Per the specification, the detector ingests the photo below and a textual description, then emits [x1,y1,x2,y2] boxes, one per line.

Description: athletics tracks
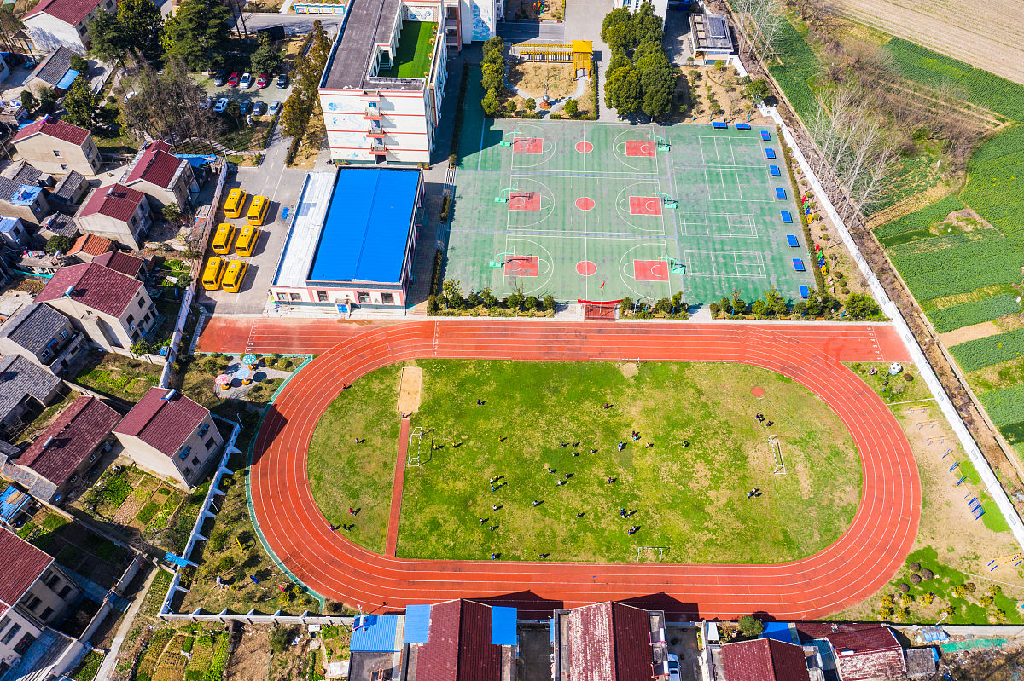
[196,317,924,624]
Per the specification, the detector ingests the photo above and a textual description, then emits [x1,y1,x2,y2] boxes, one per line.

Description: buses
[246,194,271,229]
[223,187,248,221]
[201,255,227,294]
[221,258,247,297]
[234,223,259,260]
[212,222,236,258]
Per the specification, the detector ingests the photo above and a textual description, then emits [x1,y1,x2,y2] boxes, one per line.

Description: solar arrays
[703,14,725,35]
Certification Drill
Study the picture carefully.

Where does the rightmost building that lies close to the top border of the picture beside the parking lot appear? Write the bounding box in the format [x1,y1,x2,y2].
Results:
[318,0,451,161]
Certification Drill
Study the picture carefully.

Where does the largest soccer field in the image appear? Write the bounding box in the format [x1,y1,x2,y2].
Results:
[307,358,863,564]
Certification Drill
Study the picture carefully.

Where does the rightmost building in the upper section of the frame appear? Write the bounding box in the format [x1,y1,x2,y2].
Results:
[682,12,733,65]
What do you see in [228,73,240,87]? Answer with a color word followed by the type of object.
red vehicle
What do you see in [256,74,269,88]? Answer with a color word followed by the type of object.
red vehicle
